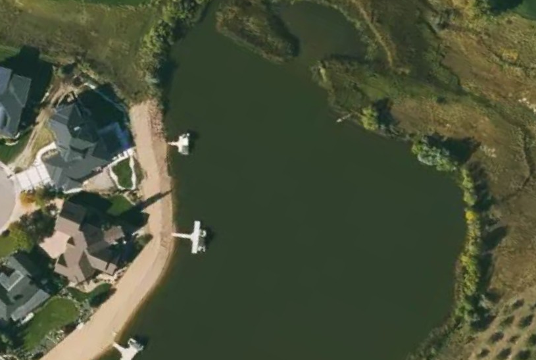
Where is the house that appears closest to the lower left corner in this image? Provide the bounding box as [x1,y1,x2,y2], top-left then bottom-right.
[0,260,51,323]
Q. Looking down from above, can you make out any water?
Yes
